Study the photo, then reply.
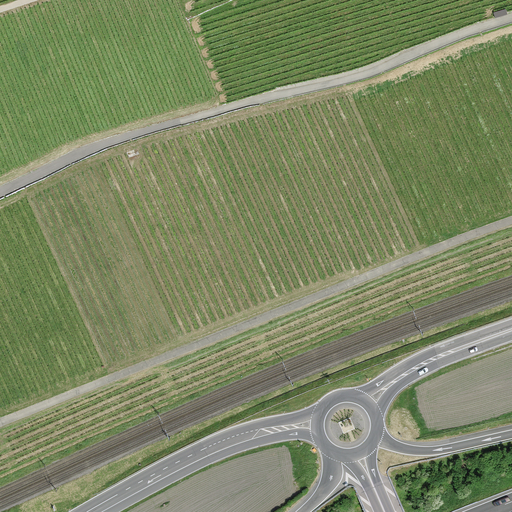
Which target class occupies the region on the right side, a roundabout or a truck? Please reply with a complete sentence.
Visible on the right side is a roundabout.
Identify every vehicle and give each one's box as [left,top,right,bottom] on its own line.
[469,346,478,352]
[494,497,510,506]
[418,367,429,375]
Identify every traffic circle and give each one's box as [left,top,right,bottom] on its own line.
[310,389,384,462]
